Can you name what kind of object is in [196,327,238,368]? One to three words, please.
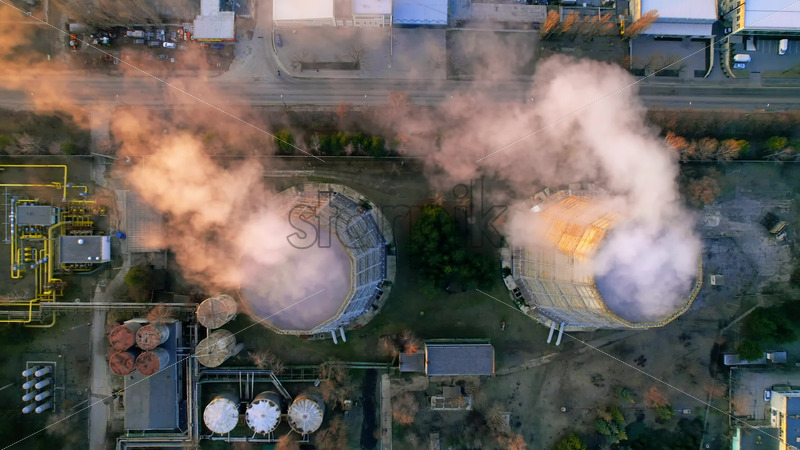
storage tank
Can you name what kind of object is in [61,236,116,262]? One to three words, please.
house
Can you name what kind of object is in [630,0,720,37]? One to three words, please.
building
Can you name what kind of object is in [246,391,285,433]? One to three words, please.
storage tank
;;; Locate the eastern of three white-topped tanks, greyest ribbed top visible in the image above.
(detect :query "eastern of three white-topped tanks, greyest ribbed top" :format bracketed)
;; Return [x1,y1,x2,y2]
[288,391,326,433]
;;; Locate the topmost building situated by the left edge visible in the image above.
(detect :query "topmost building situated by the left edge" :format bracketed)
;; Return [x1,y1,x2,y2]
[18,205,59,224]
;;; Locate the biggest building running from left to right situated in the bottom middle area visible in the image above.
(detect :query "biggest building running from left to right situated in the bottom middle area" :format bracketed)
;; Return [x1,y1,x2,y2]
[427,343,494,374]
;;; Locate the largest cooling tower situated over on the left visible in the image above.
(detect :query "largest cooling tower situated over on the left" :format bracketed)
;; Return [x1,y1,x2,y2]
[234,177,401,348]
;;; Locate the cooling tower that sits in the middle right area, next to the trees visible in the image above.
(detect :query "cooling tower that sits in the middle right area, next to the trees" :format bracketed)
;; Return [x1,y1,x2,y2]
[502,175,708,349]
